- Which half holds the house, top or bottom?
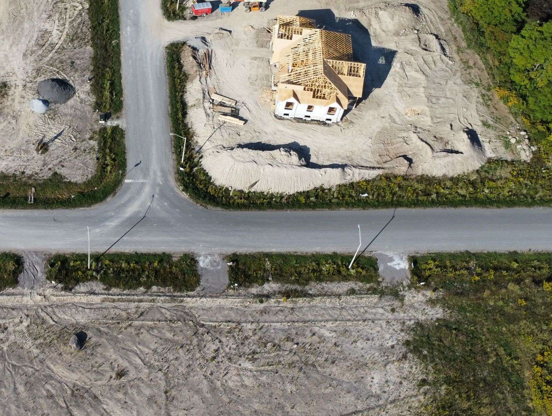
top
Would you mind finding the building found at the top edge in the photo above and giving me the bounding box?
[269,16,368,122]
